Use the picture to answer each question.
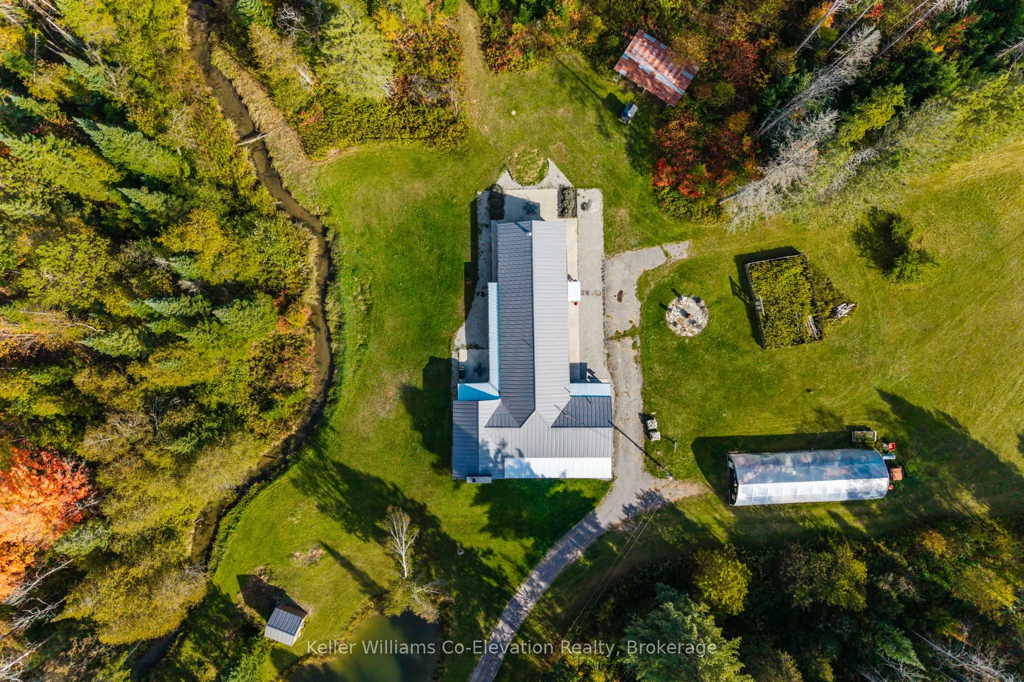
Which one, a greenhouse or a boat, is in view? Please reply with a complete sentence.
The one in the frame is a greenhouse.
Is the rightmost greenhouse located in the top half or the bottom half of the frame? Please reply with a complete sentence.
The rightmost greenhouse sits in the bottom half of the picture.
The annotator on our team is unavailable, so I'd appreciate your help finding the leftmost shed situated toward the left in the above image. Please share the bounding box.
[259,599,309,653]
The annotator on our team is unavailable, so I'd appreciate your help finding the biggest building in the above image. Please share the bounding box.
[452,218,612,486]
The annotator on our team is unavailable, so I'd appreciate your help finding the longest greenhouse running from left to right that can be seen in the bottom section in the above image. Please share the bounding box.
[729,448,889,508]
